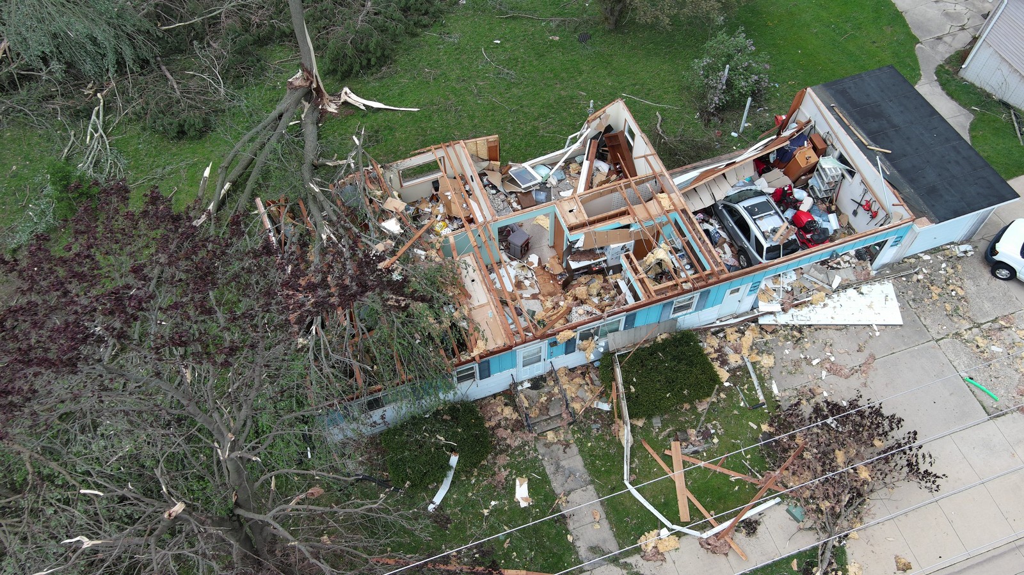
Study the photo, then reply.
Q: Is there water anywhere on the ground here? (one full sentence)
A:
No, there's no water in this view.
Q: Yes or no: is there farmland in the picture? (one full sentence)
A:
No, the scene doesn't show any farmland.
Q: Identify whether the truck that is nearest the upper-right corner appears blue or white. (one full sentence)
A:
The color of the truck that is nearest the upper-right corner is white.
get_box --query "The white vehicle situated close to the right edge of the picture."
[978,224,1024,288]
